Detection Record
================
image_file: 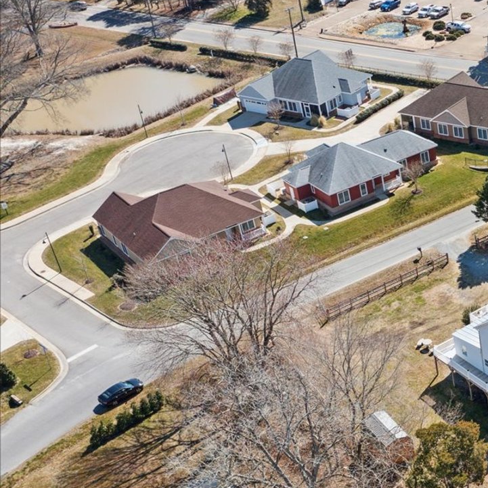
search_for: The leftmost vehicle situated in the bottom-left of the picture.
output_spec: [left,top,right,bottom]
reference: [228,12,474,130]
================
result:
[89,373,149,403]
